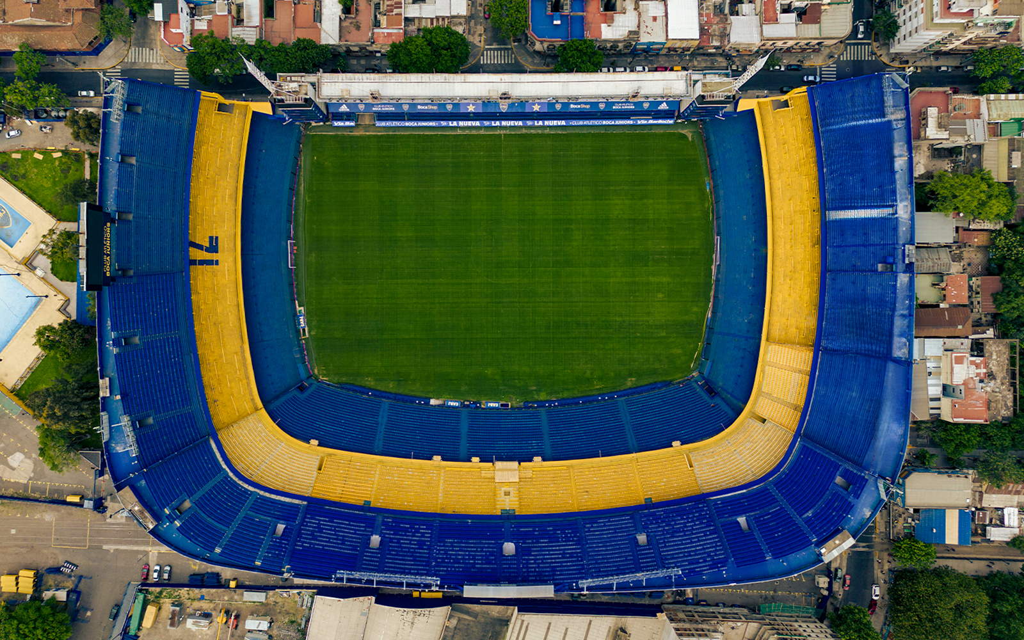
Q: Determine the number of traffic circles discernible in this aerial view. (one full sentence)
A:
The picture shows no traffic circles.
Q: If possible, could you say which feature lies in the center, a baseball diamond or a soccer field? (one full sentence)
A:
Visible in the center is a soccer field.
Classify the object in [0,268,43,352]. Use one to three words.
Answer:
swimming pool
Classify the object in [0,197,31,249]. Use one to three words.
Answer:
swimming pool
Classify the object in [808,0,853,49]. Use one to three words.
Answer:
house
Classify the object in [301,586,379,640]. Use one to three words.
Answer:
shed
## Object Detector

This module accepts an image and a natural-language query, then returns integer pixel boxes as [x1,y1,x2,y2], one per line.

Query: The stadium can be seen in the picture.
[93,69,918,598]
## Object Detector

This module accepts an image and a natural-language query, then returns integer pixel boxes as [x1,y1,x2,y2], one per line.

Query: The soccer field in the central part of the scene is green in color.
[293,119,716,410]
